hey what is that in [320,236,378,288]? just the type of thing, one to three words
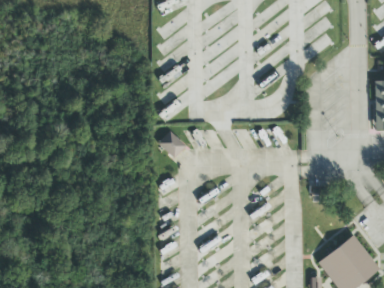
building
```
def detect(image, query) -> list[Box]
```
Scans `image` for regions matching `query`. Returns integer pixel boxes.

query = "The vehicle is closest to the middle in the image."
[192,130,207,148]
